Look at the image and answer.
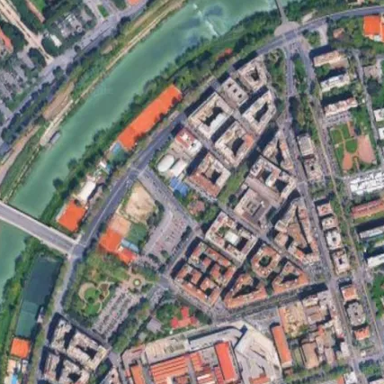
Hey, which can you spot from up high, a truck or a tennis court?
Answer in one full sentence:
Visible in the photo is a tennis court.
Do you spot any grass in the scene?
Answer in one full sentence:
Yes, some grass is visible.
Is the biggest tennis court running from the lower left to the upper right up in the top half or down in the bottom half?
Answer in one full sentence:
It is in the top half that the biggest tennis court running from the lower left to the upper right appears.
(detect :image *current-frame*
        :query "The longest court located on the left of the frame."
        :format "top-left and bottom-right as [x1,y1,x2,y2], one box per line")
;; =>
[118,84,181,149]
